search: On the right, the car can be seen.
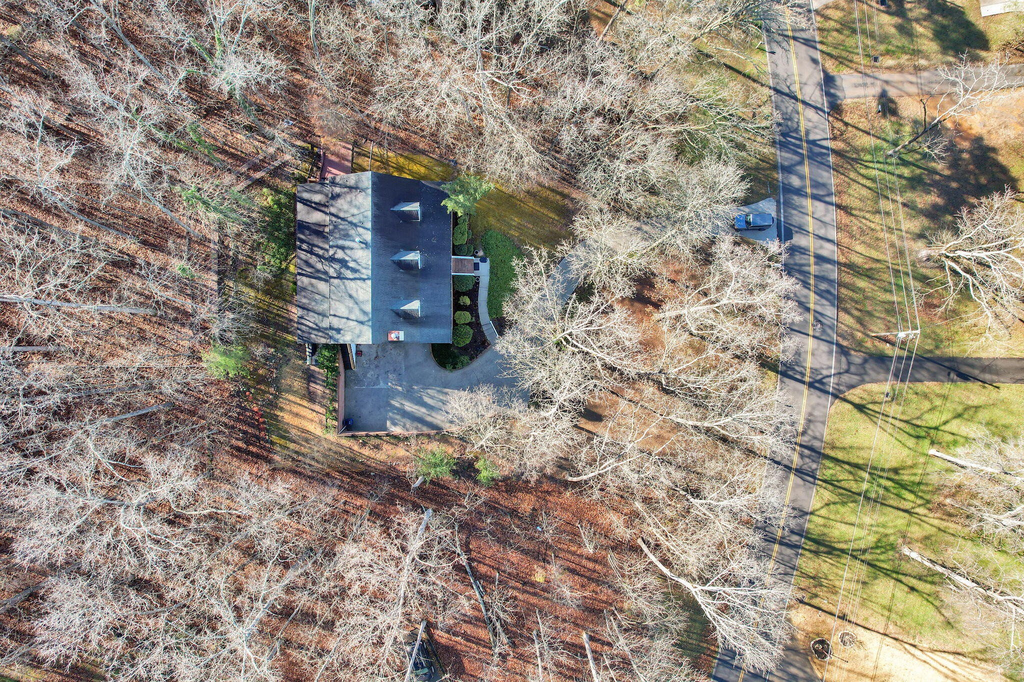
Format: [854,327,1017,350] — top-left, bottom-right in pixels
[732,214,773,232]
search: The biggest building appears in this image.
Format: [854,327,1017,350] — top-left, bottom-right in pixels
[296,171,454,344]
